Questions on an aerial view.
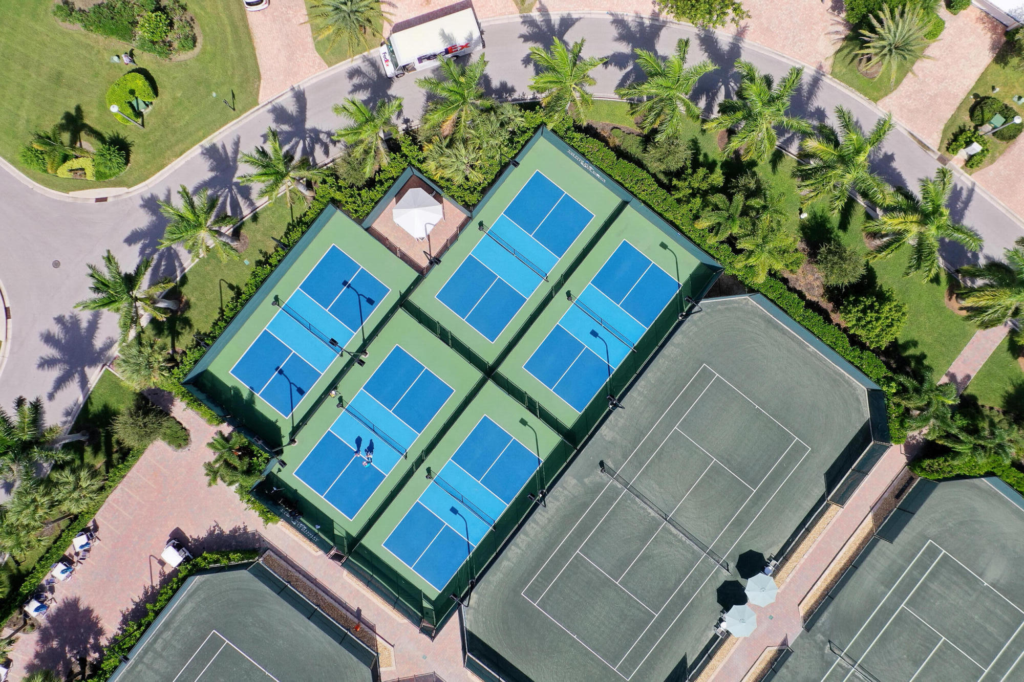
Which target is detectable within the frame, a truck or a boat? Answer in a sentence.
Of the two, only a truck appears.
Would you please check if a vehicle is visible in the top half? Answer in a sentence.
Yes, I can see a vehicle in the top half.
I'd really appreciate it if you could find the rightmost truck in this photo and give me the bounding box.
[379,10,483,77]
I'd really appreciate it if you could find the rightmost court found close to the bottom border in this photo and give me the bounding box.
[769,477,1024,682]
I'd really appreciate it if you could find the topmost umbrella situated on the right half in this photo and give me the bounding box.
[740,568,781,610]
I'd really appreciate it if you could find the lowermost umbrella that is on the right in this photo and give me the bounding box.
[720,601,759,640]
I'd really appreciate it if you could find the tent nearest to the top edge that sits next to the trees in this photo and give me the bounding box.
[393,188,444,242]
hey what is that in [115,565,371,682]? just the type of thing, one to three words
tennis court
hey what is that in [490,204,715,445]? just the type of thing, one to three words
sports court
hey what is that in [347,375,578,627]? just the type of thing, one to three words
sports court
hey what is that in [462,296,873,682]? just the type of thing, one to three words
tennis court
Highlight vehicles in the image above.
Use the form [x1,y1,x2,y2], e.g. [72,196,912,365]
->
[244,0,268,12]
[158,539,192,571]
[379,10,483,77]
